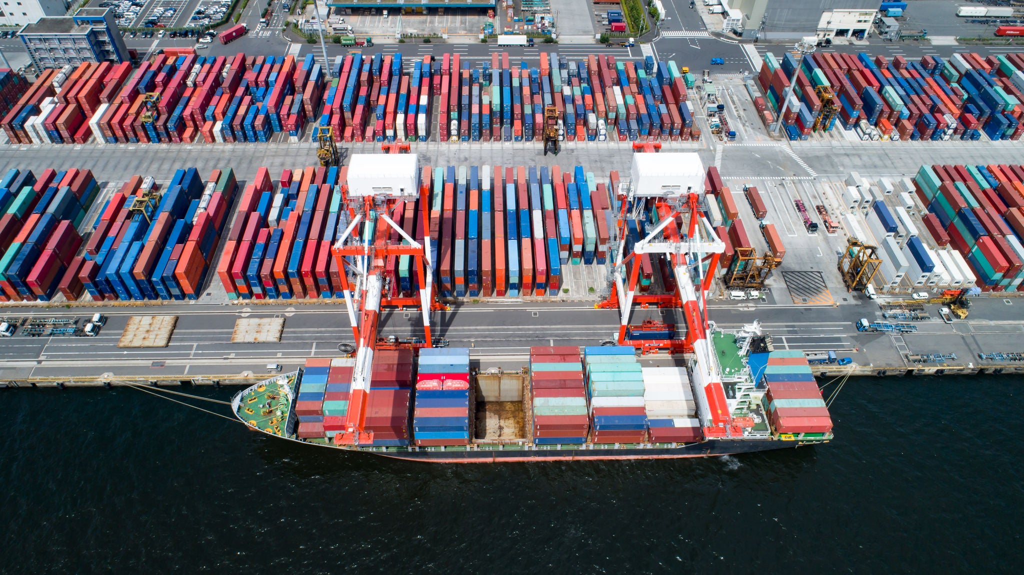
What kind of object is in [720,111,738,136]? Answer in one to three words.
vehicle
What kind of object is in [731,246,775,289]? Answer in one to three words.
work vehicle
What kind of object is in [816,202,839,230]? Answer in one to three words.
truck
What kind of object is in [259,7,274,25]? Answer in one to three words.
vehicle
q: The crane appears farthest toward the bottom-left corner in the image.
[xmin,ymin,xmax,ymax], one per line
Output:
[330,141,449,456]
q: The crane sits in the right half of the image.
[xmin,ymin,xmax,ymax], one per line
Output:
[596,140,746,449]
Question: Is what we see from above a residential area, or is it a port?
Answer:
port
